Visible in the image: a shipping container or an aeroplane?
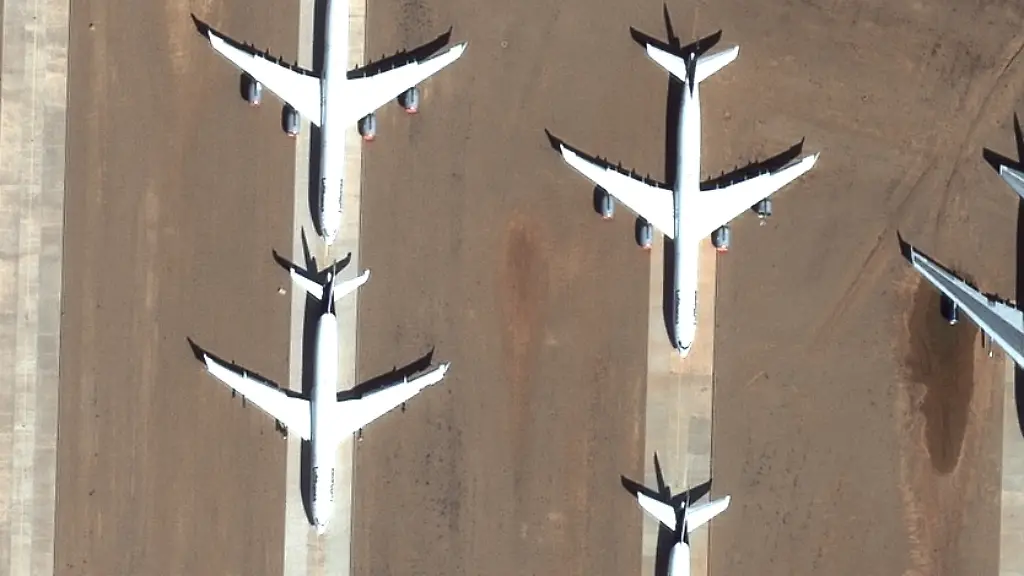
aeroplane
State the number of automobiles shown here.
zero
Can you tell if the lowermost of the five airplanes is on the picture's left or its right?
right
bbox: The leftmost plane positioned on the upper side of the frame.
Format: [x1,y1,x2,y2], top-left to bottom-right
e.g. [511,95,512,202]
[208,0,466,244]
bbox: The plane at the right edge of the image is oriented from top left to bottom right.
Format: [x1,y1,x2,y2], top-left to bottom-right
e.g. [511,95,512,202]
[912,245,1024,369]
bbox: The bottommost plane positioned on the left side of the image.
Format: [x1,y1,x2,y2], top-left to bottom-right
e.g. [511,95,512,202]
[204,263,449,535]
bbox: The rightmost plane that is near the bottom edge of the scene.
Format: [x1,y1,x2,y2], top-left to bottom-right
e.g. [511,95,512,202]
[640,487,731,576]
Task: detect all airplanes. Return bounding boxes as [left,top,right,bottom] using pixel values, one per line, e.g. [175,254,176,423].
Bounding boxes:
[562,38,819,358]
[208,0,466,244]
[204,263,449,535]
[912,245,1024,369]
[640,487,731,576]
